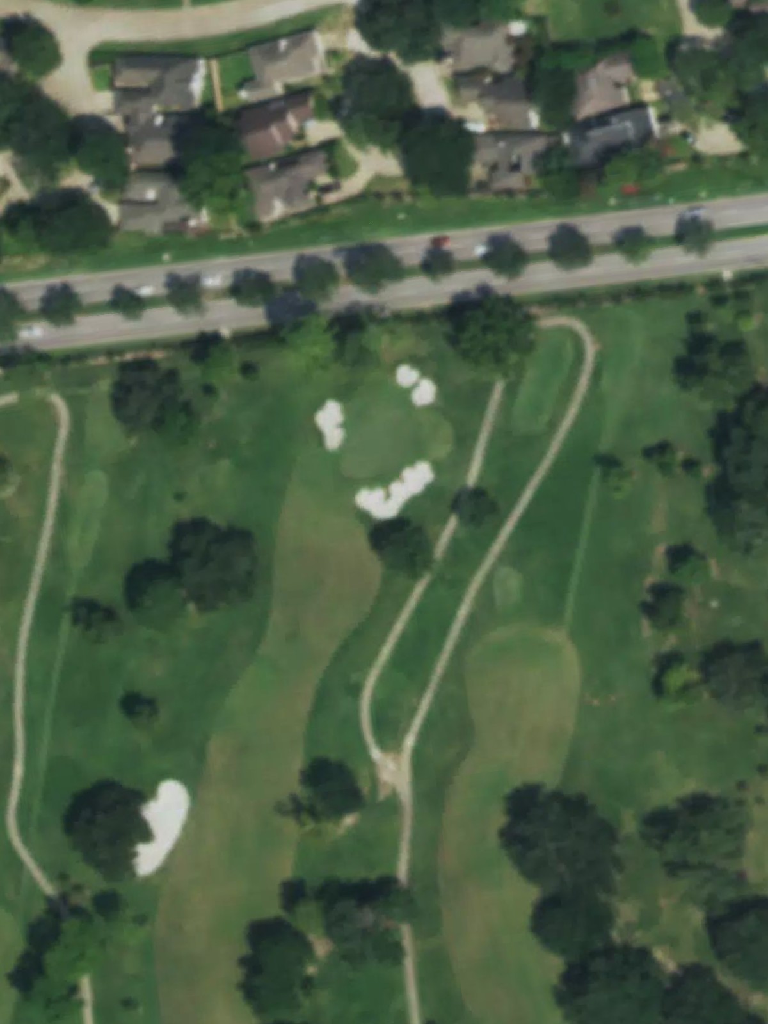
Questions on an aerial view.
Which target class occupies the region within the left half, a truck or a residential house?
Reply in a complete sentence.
The one visible within the left half is a residential house.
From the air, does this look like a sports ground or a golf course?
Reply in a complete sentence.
What you see here is a golf course.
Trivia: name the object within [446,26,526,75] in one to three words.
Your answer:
house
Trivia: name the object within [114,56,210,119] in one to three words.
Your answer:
house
